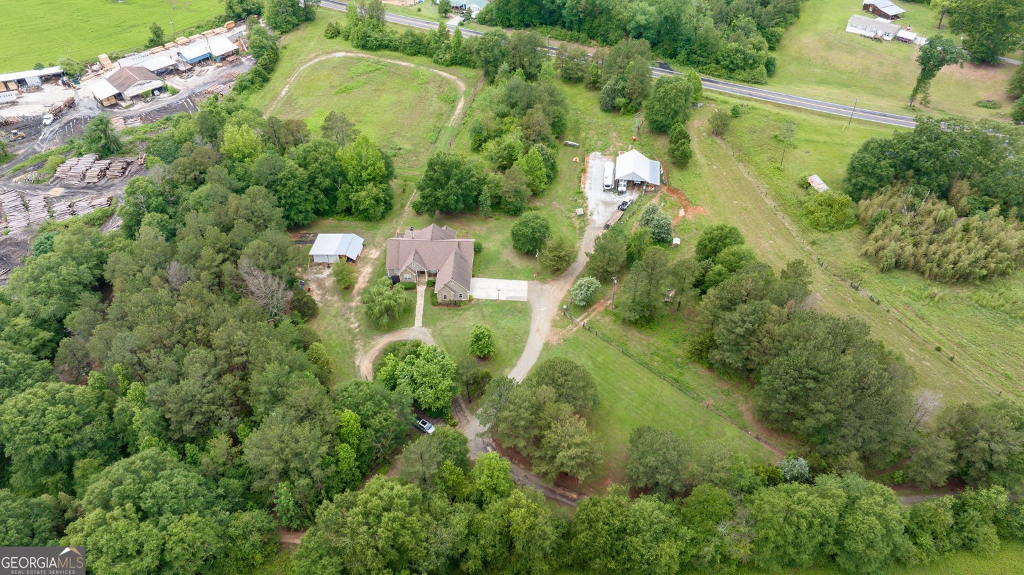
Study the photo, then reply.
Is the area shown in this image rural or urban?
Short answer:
rural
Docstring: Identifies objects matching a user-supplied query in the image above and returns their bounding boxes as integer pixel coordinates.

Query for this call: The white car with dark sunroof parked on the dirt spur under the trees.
[409,413,437,437]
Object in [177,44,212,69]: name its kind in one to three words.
building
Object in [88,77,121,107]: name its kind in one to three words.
shed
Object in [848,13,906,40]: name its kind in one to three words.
house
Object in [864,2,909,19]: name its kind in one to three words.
barn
